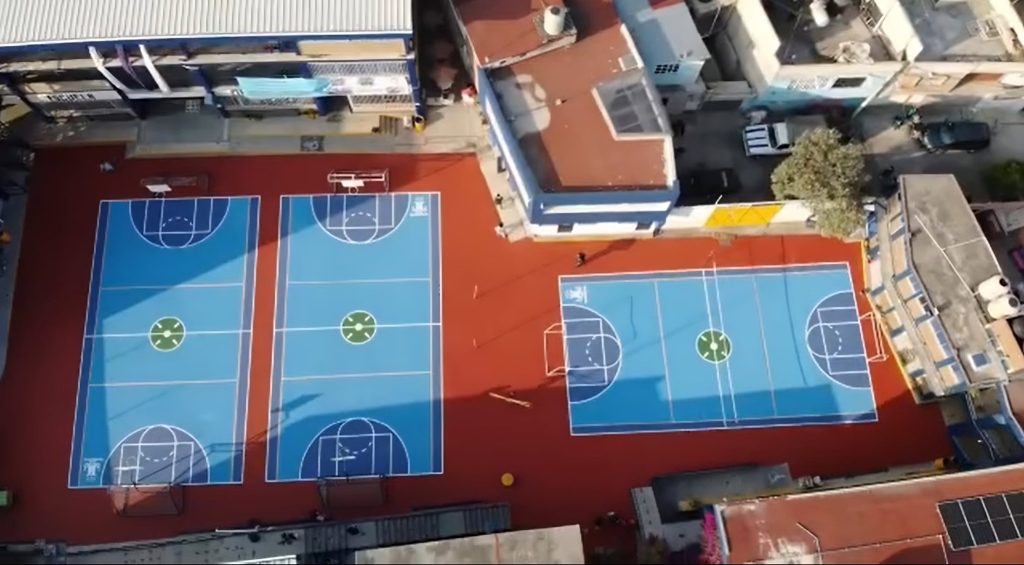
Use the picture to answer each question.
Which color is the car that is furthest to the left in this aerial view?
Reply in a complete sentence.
In this view, the car that is furthest to the left is black.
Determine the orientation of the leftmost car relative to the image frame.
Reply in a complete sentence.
The leftmost car is oriented from side to side.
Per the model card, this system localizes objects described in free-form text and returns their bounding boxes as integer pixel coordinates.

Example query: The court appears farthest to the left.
[66,196,261,488]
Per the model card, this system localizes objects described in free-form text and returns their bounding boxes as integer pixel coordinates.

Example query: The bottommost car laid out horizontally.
[679,170,751,203]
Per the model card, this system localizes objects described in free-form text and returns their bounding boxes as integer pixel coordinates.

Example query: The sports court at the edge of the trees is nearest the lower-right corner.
[559,262,878,436]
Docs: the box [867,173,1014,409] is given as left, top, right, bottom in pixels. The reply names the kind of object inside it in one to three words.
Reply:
building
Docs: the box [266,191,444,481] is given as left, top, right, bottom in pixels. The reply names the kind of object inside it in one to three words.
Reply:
sports court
